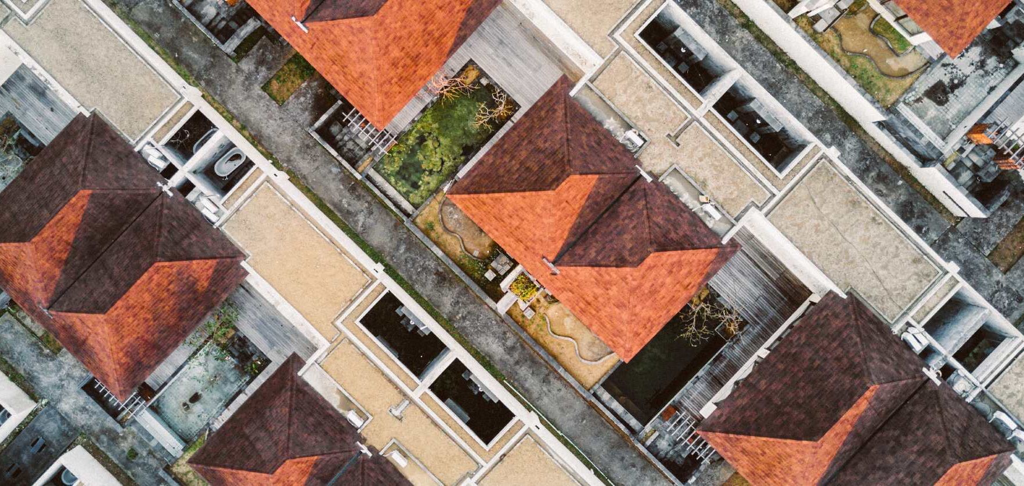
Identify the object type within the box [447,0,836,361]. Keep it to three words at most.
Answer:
house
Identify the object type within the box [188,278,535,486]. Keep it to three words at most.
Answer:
house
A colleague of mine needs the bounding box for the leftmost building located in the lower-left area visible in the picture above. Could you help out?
[0,374,35,442]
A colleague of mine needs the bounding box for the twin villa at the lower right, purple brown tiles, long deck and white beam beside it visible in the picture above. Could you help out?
[696,150,1024,486]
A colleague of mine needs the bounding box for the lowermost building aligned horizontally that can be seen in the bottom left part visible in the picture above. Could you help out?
[33,446,125,486]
